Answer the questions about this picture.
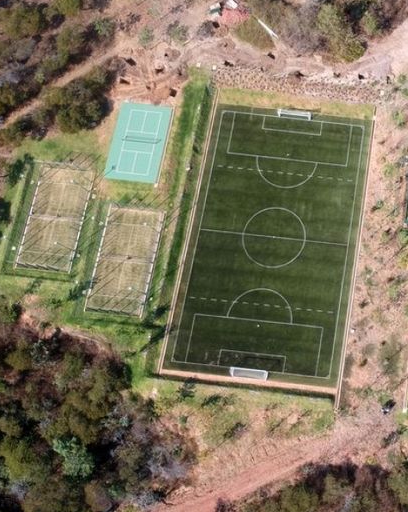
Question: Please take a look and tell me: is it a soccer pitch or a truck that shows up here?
soccer pitch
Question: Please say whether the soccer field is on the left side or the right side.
right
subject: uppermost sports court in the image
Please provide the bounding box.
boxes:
[106,102,174,185]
